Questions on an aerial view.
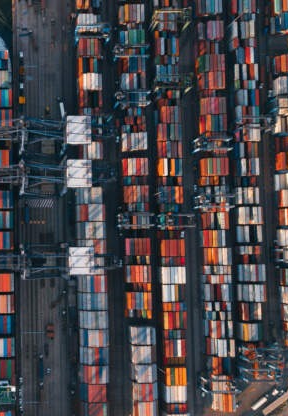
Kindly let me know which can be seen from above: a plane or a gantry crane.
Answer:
gantry crane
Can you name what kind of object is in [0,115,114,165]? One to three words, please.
container crane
